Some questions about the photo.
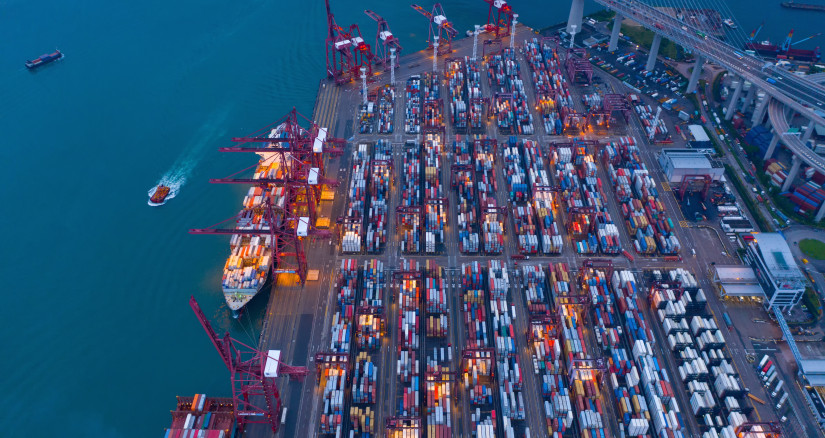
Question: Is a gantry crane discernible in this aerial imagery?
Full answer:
Yes, the photo shows a gantry crane.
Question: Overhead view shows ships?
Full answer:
Yes, you can see a ship in this photo.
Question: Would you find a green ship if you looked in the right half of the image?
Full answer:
No, there is no green ship in the right half of the image.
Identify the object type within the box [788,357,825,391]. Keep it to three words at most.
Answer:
building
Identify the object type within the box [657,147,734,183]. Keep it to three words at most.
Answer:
building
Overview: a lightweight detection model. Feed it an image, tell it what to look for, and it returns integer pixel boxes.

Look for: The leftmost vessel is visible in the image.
[24,48,60,68]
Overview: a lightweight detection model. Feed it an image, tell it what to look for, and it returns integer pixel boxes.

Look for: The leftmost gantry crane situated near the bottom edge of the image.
[183,298,305,432]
